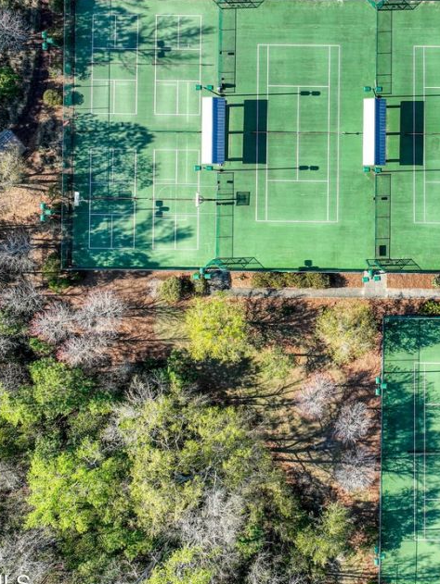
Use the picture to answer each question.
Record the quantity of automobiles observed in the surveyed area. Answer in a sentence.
The photo contains no automobiles.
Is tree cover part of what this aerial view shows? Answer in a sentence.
Yes, tree cover can be seen from above here.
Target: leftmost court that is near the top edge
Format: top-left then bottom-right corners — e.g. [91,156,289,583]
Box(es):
[73,0,146,131]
